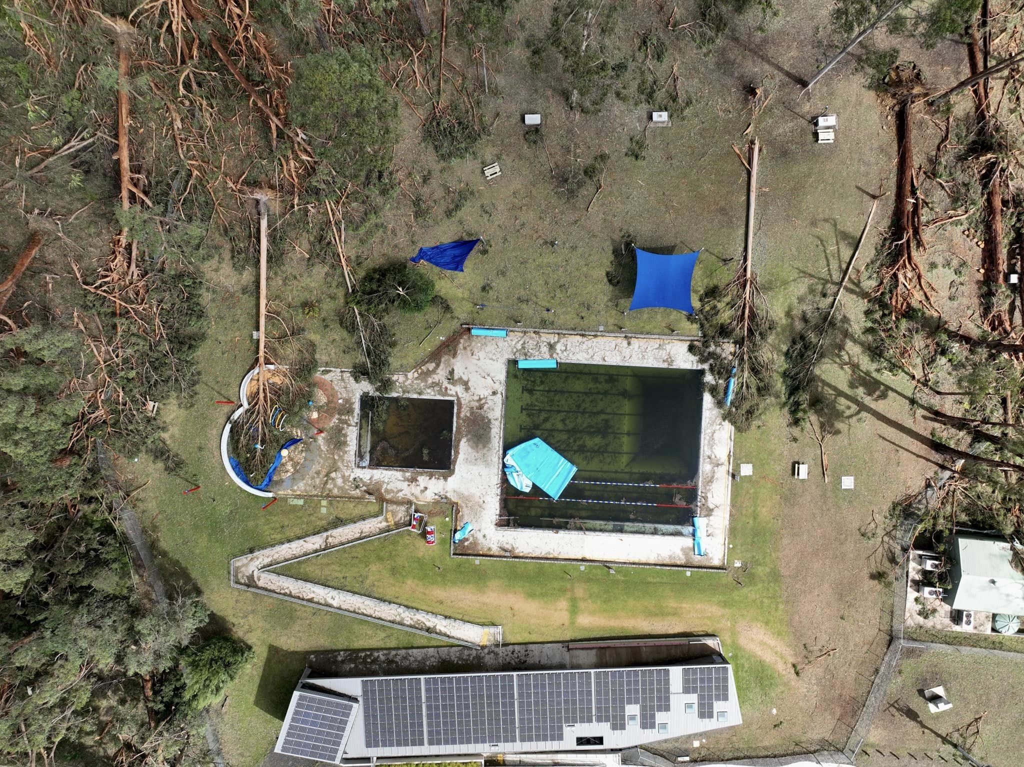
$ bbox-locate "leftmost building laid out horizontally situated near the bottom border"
[273,655,743,767]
